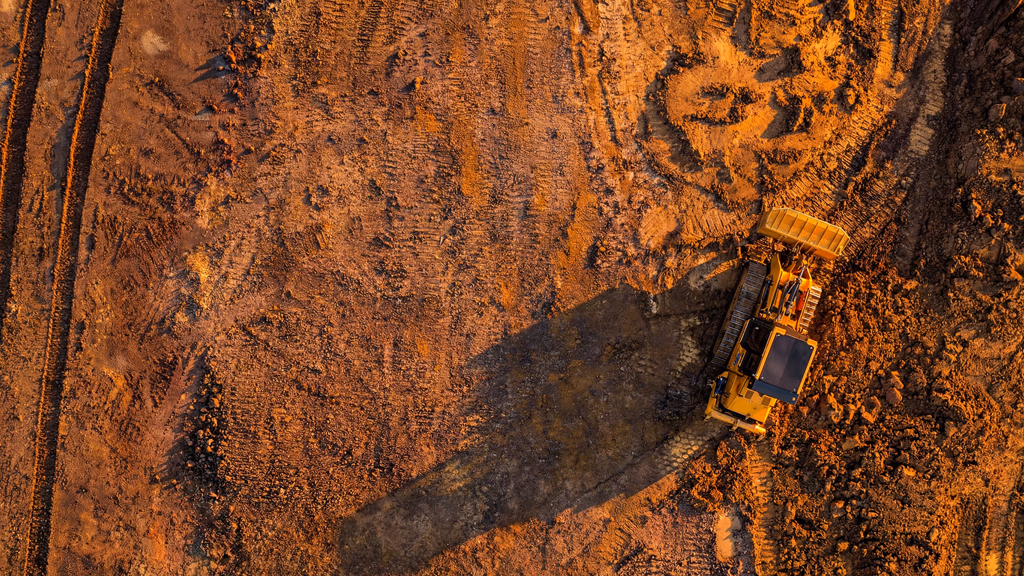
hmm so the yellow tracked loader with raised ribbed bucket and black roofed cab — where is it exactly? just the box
[698,209,847,439]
